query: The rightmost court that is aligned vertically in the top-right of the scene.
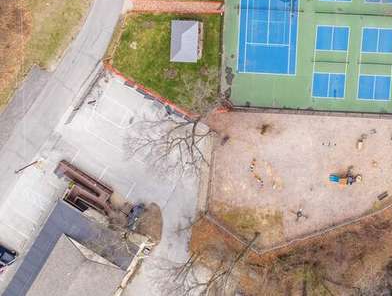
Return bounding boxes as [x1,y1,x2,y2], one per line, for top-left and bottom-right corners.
[357,27,392,101]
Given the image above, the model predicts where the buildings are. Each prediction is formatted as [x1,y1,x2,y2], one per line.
[5,197,150,296]
[170,20,203,62]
